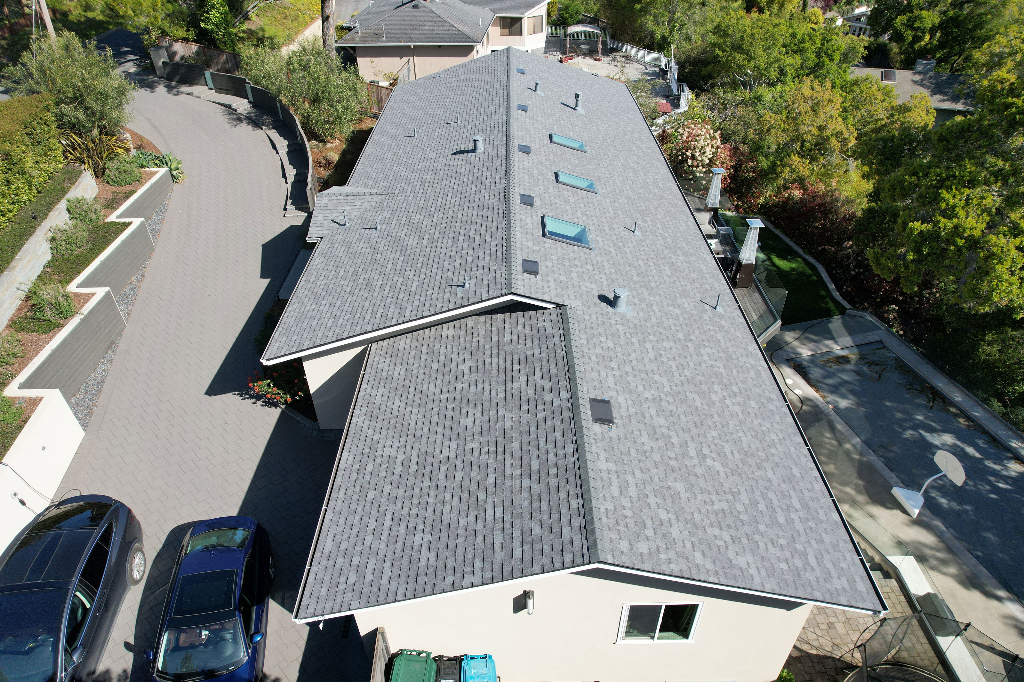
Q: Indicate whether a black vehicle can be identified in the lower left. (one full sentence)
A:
Yes, you'll find a black vehicle in the lower left.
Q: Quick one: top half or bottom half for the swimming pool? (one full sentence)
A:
Seen from above, the swimming pool lies in the bottom half of the view.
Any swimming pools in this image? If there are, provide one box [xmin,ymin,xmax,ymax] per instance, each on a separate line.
[764,330,1024,629]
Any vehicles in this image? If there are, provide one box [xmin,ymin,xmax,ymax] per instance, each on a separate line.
[0,497,143,682]
[131,519,281,682]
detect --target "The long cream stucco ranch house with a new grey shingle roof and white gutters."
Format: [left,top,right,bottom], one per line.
[259,46,890,682]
